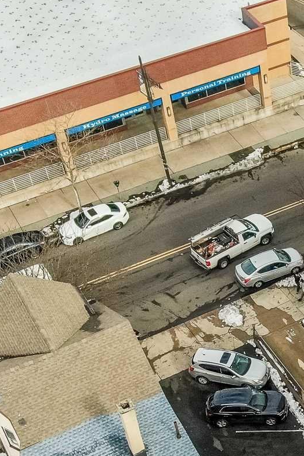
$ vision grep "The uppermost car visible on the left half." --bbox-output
[56,204,131,247]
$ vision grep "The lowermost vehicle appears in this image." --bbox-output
[204,385,287,427]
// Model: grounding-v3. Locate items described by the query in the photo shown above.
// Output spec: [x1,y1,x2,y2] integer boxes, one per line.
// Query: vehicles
[190,216,278,273]
[186,346,268,388]
[204,385,287,427]
[0,232,44,269]
[56,204,131,247]
[231,248,304,291]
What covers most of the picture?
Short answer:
buildings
